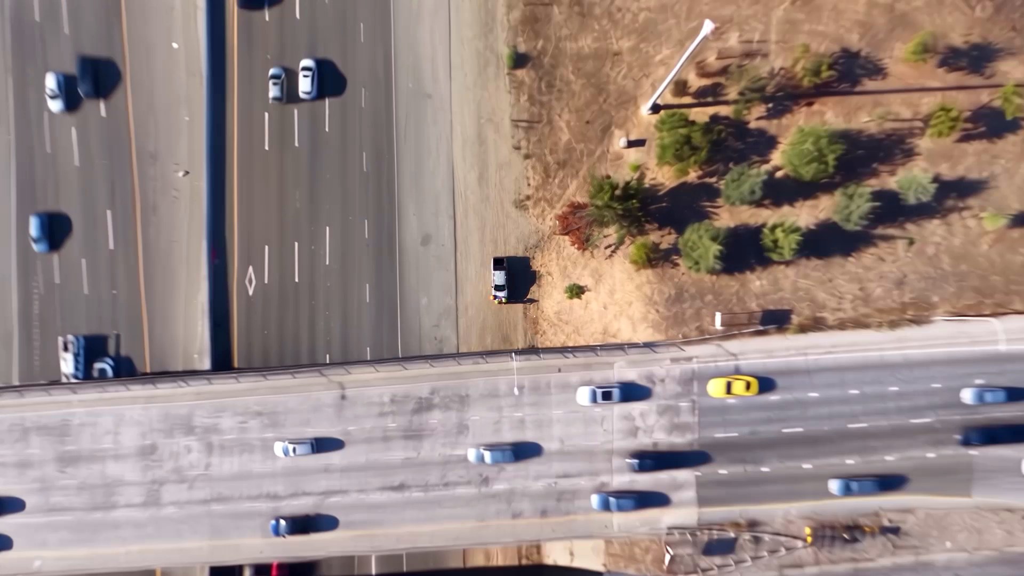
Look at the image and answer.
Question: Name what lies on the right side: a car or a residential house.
car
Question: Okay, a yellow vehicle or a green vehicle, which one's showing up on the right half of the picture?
yellow vehicle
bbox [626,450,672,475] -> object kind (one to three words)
car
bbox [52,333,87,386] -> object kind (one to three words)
truck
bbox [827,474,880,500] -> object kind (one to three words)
car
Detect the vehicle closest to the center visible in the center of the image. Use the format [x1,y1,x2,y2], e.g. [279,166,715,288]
[490,253,511,302]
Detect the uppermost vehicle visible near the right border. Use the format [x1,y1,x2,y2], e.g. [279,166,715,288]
[959,385,1010,408]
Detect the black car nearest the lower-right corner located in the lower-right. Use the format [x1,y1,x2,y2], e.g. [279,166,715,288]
[961,424,1015,449]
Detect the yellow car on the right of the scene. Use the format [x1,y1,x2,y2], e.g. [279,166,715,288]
[707,374,758,399]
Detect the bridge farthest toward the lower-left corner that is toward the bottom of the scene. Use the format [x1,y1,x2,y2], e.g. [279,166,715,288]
[0,339,697,574]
